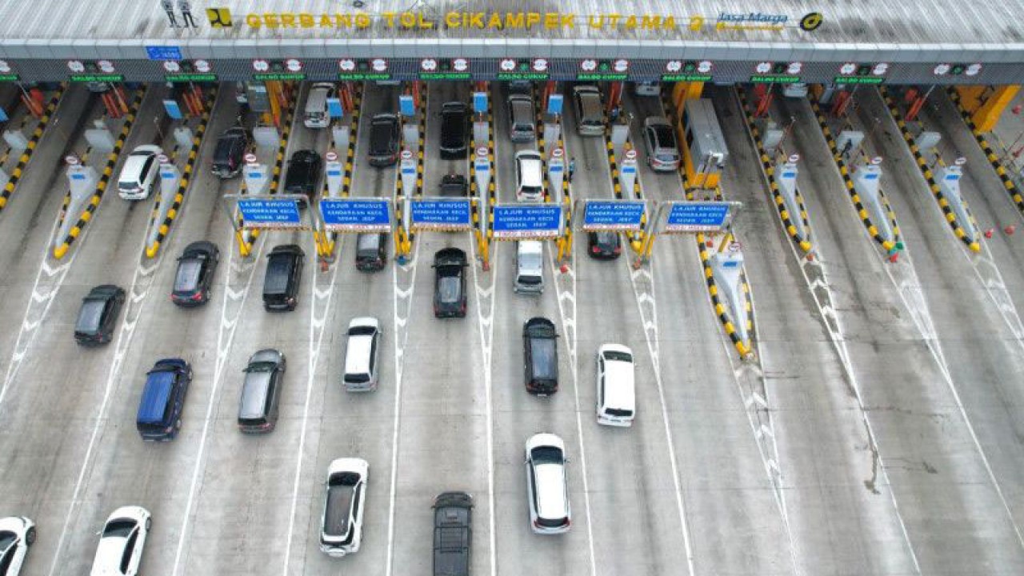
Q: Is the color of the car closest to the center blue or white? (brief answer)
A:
white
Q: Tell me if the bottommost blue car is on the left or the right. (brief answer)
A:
left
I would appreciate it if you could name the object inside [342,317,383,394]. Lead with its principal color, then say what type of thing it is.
white car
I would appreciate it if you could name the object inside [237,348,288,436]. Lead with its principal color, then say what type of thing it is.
gray car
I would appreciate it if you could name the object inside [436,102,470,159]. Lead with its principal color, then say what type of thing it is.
black car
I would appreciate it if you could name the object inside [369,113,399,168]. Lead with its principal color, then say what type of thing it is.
black car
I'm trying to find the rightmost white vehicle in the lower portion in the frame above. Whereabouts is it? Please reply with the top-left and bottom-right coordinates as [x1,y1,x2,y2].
[593,345,637,428]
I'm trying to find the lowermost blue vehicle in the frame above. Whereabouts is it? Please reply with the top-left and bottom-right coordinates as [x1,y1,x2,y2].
[136,358,194,443]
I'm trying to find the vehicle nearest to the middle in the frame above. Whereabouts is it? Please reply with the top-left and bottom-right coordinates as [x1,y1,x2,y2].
[510,240,546,294]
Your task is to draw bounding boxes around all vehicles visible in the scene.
[169,239,222,308]
[505,93,536,143]
[300,78,336,129]
[435,171,471,230]
[90,506,154,576]
[586,231,622,263]
[320,457,371,558]
[210,124,253,179]
[75,282,130,348]
[593,345,637,428]
[510,240,546,294]
[376,78,401,88]
[261,243,307,313]
[427,494,477,576]
[342,317,383,394]
[136,358,194,443]
[628,80,657,97]
[436,102,470,159]
[282,150,322,209]
[524,433,572,536]
[572,85,606,137]
[772,81,804,98]
[641,119,677,172]
[237,348,288,436]
[369,113,399,168]
[119,146,158,200]
[432,247,470,319]
[355,213,391,271]
[518,317,561,398]
[512,151,545,202]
